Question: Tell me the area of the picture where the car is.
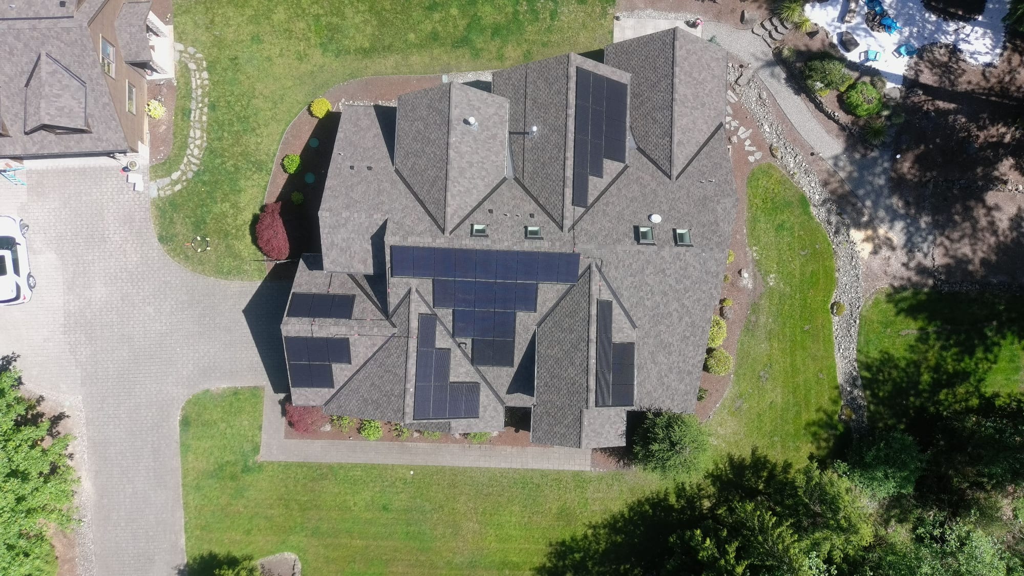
left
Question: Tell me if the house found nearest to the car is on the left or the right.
left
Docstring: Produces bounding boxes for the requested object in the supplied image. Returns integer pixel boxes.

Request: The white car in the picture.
[0,216,40,305]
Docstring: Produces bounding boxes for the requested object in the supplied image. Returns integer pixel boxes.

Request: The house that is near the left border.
[0,0,175,160]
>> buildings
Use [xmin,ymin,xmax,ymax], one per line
[280,27,736,449]
[0,0,175,160]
